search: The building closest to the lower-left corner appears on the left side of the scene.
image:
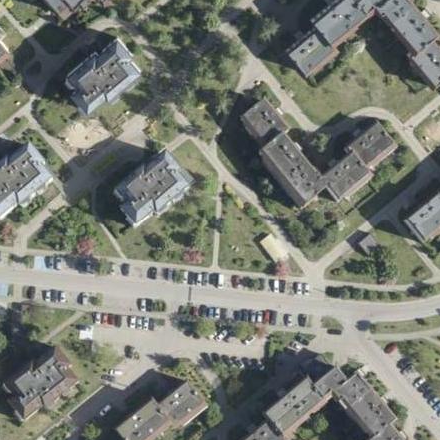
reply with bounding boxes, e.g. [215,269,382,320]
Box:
[2,346,79,422]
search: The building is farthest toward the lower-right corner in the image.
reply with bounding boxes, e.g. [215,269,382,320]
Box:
[246,368,408,440]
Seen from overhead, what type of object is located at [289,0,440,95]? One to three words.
building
